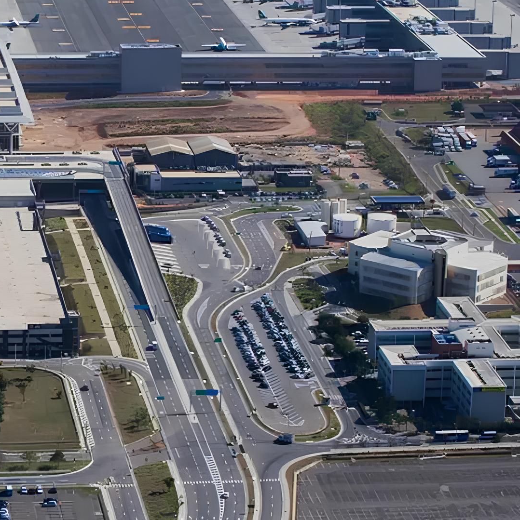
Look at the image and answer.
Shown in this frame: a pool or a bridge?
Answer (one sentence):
I can see a bridge in this picture.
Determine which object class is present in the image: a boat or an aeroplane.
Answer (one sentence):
Visible in the photo is an aeroplane.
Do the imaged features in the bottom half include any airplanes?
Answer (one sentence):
No, looking in the bottom half, there is no airplane.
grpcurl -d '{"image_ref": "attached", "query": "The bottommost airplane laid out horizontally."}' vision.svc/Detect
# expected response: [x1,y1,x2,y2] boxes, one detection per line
[194,36,250,49]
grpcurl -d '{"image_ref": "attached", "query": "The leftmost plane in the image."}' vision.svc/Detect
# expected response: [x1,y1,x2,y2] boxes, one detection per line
[0,10,38,27]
